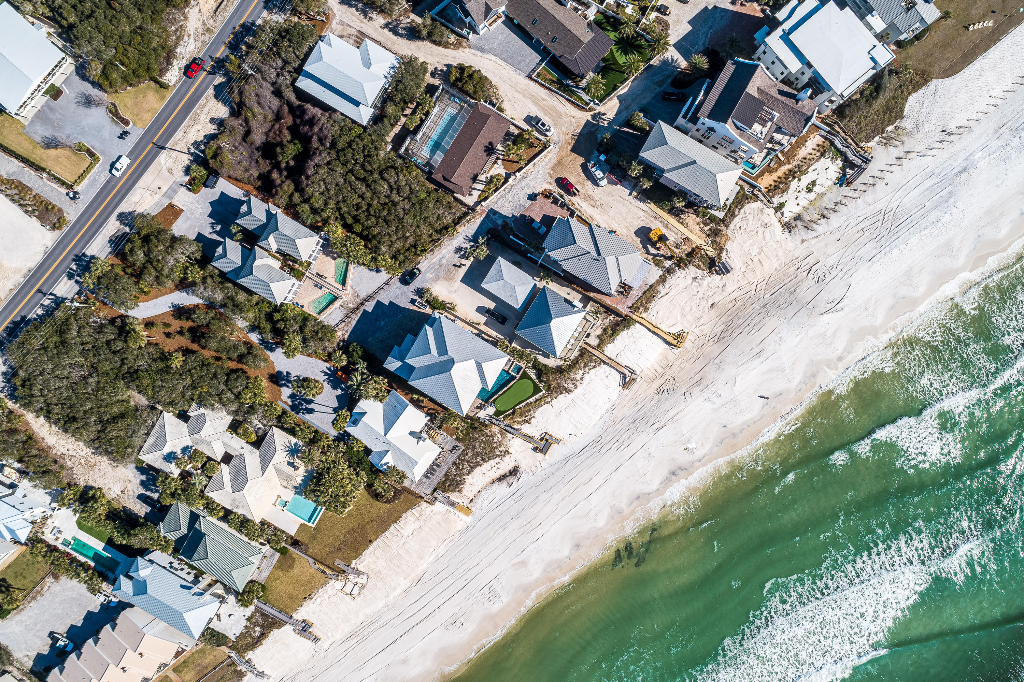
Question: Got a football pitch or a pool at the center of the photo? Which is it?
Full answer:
There is a pool at the center of the photo.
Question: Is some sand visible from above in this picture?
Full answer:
Yes, sand shows up in the scene.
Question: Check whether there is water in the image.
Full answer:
Yes, there is water in the image.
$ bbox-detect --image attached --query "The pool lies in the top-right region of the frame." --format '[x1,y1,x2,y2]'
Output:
[738,159,763,175]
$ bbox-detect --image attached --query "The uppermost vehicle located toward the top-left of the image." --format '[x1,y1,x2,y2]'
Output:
[184,54,204,78]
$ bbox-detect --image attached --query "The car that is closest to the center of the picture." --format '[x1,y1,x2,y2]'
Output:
[485,307,508,325]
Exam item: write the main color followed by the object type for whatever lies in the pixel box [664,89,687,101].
black vehicle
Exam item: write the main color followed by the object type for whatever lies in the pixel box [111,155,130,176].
white car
